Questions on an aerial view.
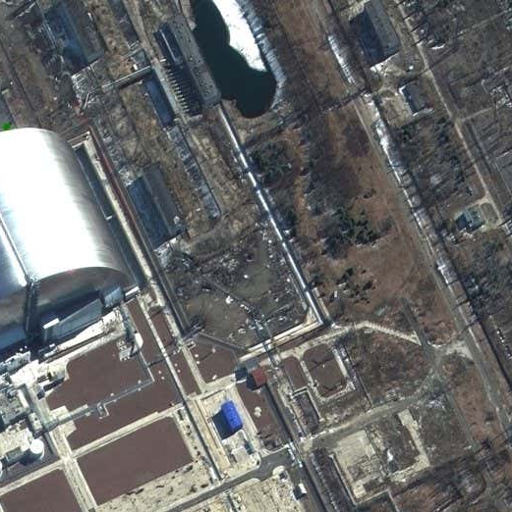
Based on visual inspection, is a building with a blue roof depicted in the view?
Yes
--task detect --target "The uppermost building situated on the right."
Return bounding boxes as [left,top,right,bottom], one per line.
[362,0,400,63]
